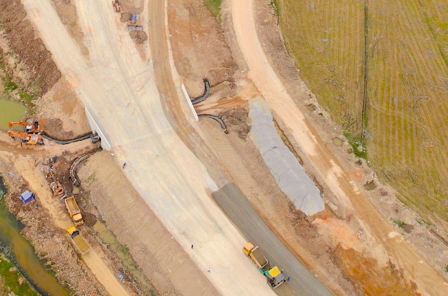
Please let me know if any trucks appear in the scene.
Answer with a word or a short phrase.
Yes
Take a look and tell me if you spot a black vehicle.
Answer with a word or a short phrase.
No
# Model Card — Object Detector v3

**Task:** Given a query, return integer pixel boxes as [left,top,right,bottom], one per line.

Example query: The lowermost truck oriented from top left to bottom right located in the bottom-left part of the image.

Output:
[63,222,93,257]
